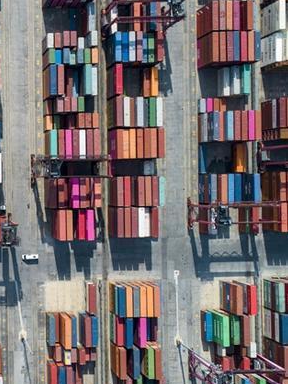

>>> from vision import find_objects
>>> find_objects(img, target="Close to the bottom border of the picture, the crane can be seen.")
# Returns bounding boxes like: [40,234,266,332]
[187,347,288,384]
